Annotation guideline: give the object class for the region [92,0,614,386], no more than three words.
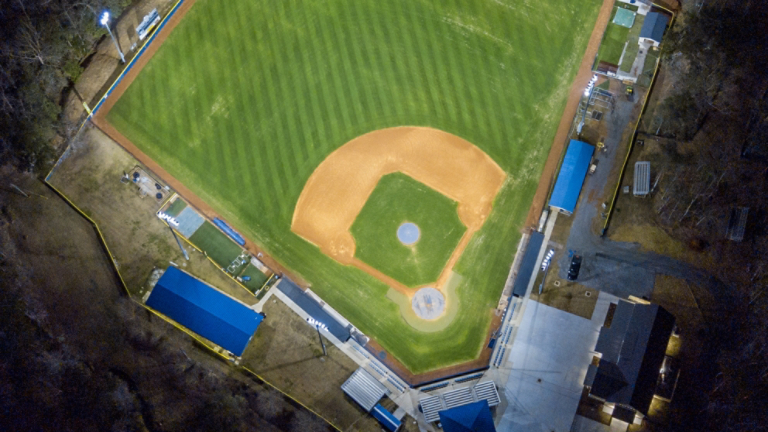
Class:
baseball field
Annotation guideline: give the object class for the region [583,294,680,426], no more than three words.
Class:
building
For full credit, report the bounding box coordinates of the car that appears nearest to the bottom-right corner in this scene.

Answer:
[568,256,581,280]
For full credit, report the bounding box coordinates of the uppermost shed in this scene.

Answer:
[639,12,668,47]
